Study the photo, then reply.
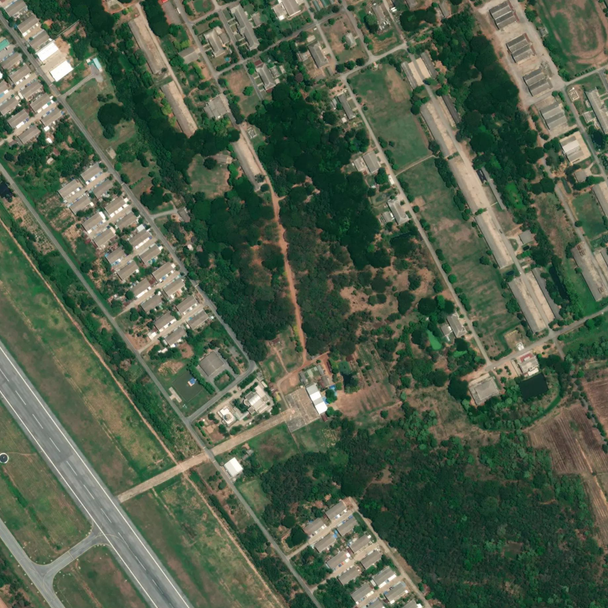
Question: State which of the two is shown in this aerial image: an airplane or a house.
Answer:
house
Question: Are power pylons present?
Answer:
No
